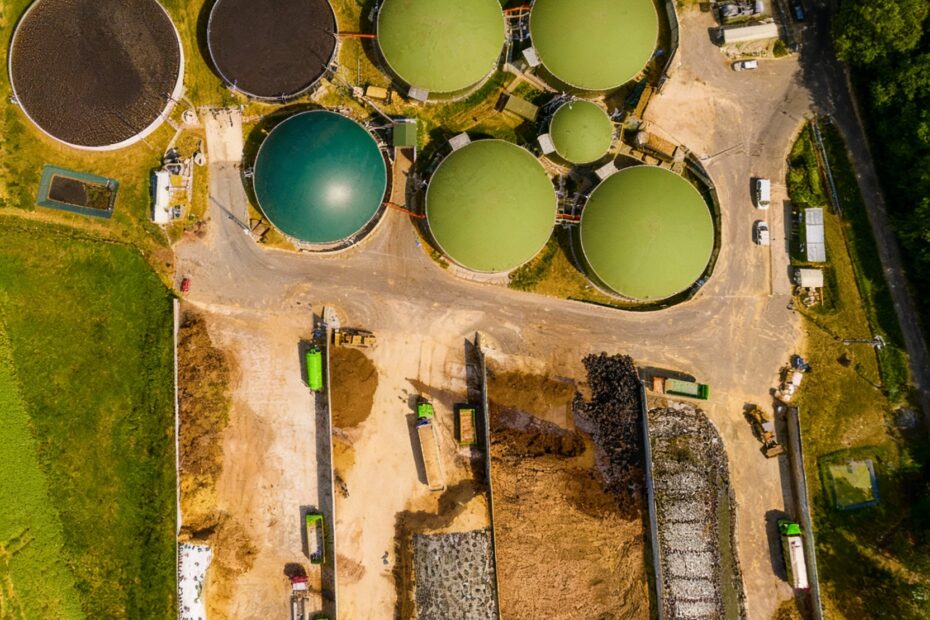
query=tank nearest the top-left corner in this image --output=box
[8,0,186,152]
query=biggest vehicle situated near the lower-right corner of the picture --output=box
[775,516,806,595]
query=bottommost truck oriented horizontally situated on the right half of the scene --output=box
[646,375,710,398]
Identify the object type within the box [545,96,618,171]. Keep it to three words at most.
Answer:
storage tank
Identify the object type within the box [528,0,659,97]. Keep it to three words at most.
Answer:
storage tank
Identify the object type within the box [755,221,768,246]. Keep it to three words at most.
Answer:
vehicle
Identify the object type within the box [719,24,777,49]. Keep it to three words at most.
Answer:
shed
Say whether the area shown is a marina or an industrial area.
industrial area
